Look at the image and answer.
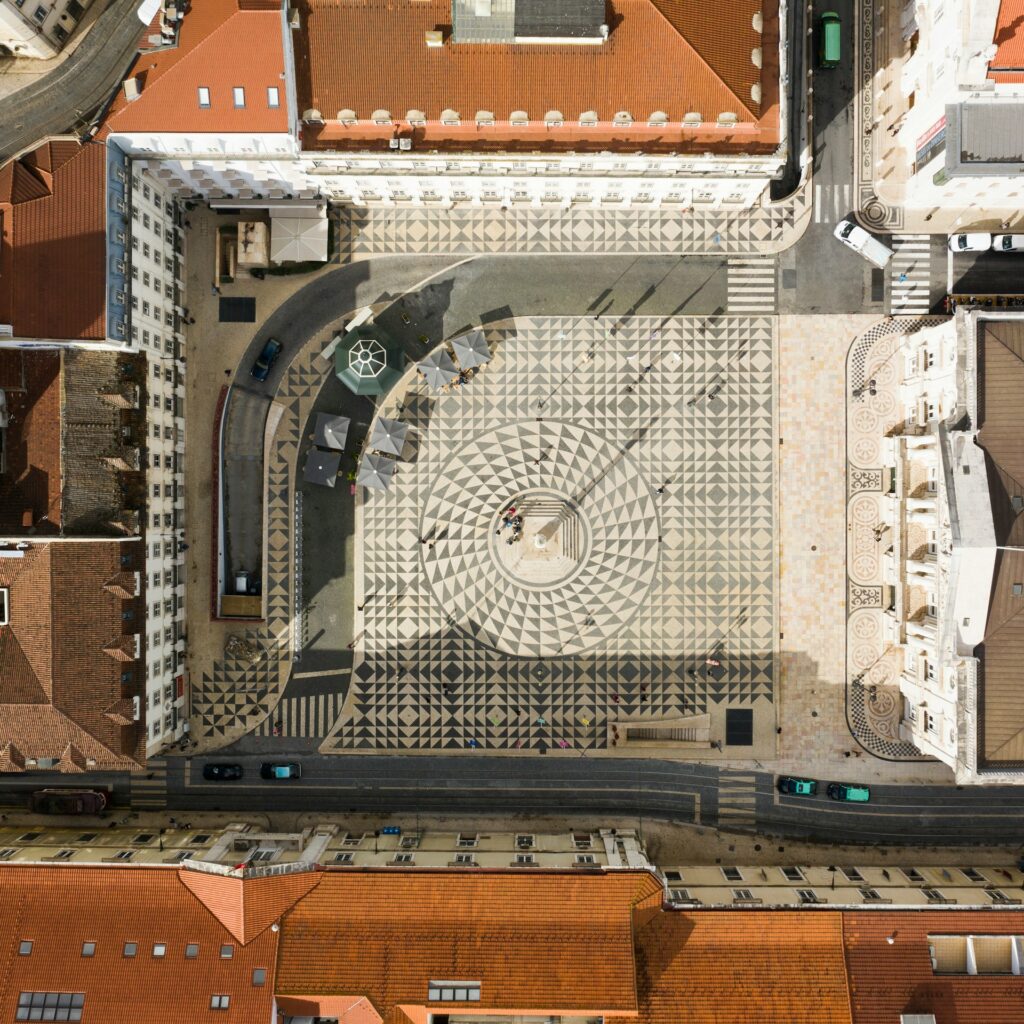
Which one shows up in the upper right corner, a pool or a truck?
truck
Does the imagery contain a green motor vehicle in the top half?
Yes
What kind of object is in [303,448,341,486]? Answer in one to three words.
umbrella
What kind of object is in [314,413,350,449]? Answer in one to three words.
umbrella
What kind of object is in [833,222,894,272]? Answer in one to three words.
truck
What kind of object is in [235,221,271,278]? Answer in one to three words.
shed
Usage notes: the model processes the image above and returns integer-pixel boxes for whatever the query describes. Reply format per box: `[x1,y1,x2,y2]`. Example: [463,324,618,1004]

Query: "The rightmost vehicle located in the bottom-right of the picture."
[825,780,870,801]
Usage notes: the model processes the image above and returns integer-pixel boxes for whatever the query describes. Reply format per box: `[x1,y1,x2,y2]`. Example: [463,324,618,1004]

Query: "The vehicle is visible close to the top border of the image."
[818,14,842,75]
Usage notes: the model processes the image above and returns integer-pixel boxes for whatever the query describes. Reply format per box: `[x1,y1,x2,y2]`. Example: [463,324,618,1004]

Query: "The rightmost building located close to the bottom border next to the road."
[816,861,1024,1024]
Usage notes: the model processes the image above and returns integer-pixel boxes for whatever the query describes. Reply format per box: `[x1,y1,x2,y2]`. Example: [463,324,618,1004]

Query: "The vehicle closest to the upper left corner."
[251,339,284,382]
